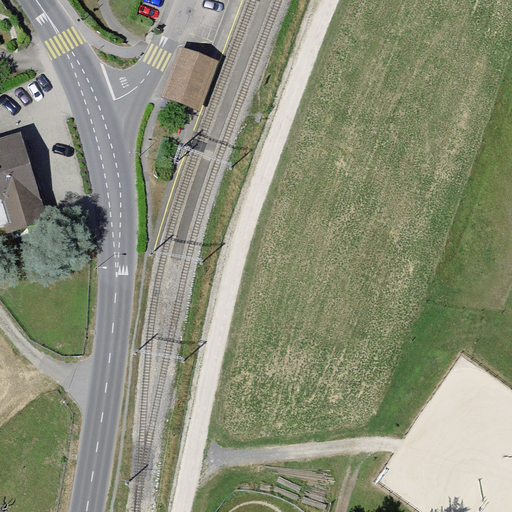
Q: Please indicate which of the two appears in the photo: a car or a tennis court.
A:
car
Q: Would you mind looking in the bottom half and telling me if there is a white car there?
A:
No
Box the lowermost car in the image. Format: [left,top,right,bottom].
[52,143,74,157]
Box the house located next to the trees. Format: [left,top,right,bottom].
[0,130,46,233]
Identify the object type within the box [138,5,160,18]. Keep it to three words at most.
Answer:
vehicle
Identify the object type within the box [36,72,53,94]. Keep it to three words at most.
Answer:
car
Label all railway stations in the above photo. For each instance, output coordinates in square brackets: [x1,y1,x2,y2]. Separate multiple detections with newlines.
[162,46,219,109]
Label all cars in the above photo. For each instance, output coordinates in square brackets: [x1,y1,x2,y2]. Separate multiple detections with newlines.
[144,0,164,6]
[0,94,21,116]
[36,72,53,94]
[202,0,224,12]
[52,143,74,157]
[138,5,160,18]
[14,86,34,107]
[27,80,44,102]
